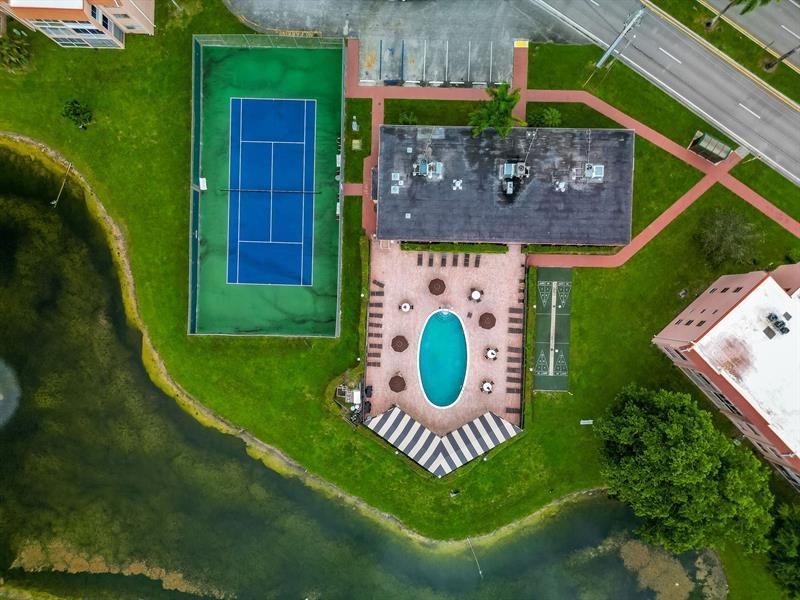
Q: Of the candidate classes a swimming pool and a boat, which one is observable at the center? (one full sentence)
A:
The feature located at the center is a swimming pool.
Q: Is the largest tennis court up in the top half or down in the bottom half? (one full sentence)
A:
You can find the largest tennis court in the top half.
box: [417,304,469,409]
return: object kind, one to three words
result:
swimming pool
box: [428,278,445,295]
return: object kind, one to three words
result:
umbrella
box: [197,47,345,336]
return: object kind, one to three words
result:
tennis court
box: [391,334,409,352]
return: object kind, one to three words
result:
umbrella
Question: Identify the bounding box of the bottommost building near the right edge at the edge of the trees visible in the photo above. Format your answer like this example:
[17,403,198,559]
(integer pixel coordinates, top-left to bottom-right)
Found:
[652,262,800,492]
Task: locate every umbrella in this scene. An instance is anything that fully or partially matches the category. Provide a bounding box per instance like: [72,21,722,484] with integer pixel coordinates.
[478,312,495,329]
[428,278,445,295]
[389,375,406,391]
[391,334,409,352]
